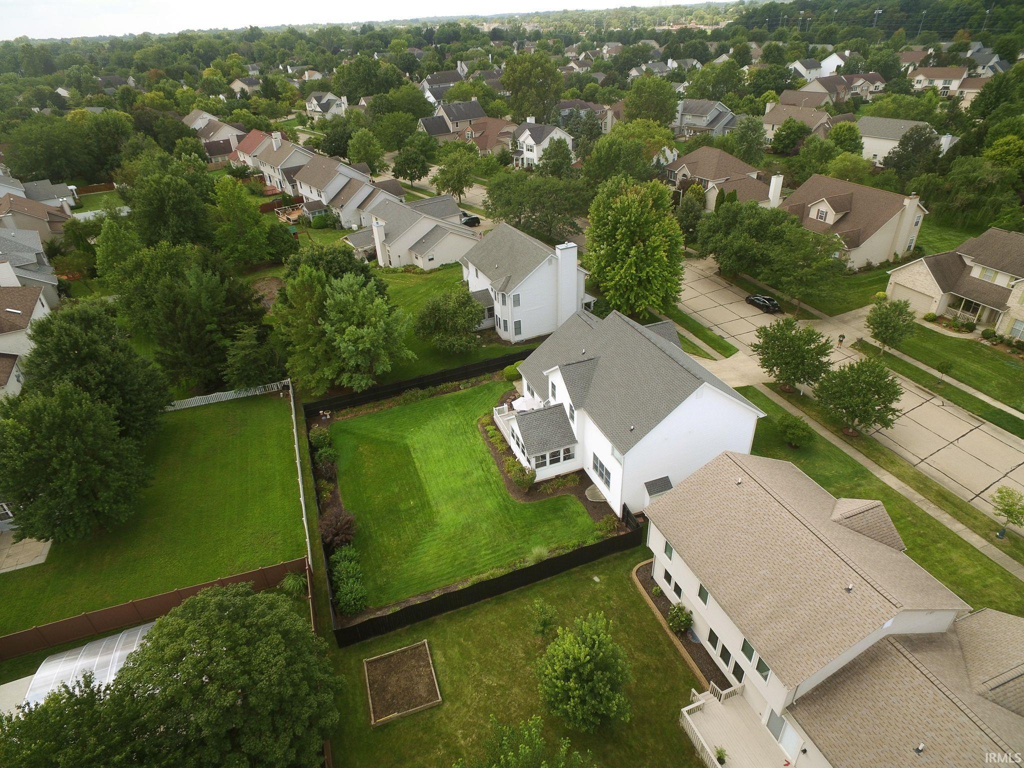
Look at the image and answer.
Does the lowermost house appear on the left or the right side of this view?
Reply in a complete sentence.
The lowermost house sits on the right side.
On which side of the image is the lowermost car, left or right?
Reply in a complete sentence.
The lowermost car is on the right side of the image.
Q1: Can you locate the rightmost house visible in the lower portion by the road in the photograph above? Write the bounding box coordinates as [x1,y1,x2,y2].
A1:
[640,452,1024,768]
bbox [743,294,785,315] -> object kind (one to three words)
car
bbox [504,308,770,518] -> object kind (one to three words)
house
